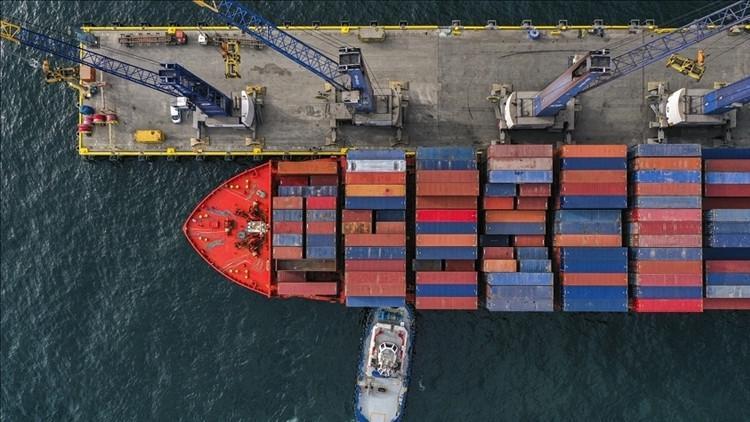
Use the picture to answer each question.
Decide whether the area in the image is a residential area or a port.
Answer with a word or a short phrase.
port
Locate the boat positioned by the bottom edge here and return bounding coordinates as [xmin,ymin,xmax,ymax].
[351,304,418,422]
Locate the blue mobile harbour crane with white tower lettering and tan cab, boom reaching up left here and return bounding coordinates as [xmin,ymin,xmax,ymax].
[176,0,411,145]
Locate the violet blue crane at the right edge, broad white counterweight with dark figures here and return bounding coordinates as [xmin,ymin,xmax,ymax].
[650,75,750,146]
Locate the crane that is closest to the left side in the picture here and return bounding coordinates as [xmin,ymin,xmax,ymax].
[0,15,274,149]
